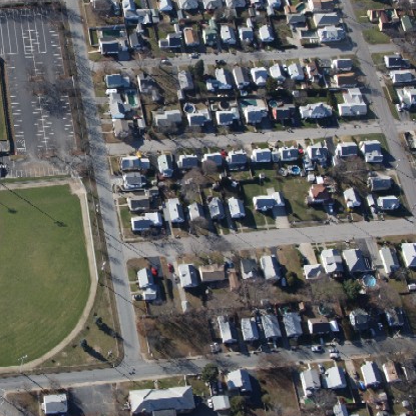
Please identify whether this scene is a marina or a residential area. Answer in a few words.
residential area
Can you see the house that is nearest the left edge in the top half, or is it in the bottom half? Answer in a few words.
bottom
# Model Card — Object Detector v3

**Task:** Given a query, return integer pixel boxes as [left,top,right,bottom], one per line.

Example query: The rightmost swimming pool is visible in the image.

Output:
[361,274,376,288]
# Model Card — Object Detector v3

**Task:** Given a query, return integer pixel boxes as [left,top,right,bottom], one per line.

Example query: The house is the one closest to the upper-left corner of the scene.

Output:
[91,0,120,17]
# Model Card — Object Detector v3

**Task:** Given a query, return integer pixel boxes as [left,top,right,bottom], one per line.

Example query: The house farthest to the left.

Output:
[44,396,67,416]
